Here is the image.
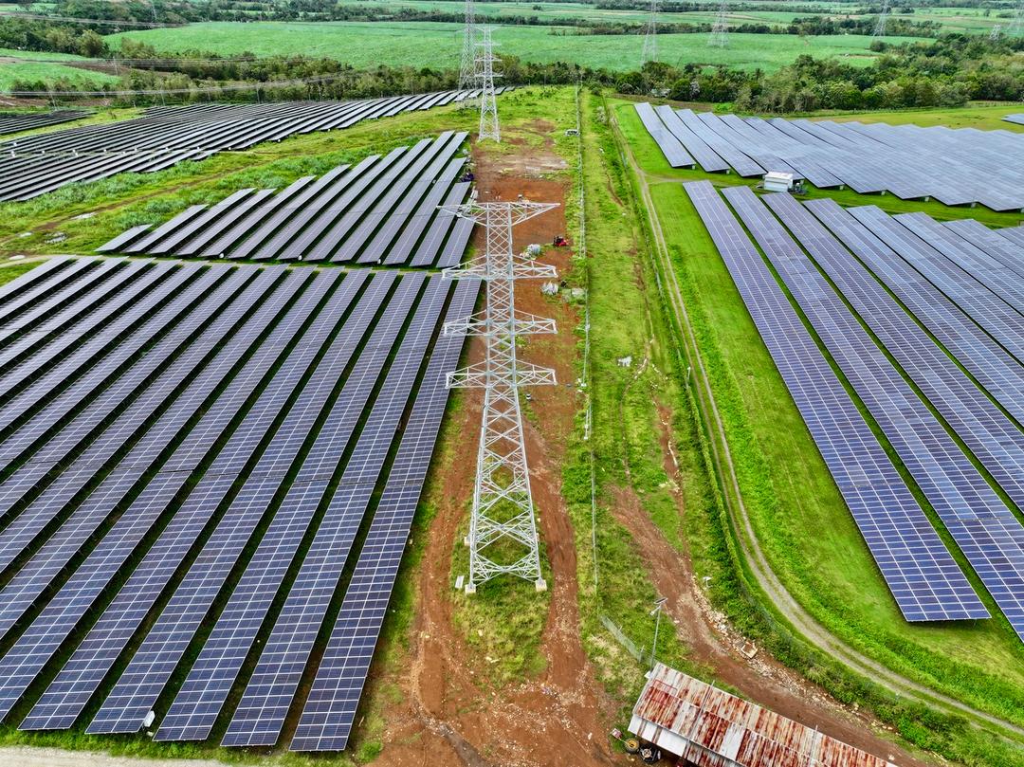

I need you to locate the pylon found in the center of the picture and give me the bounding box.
[436,197,562,593]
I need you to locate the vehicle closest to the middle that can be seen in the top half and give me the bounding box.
[554,235,569,247]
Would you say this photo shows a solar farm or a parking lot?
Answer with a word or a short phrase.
solar farm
